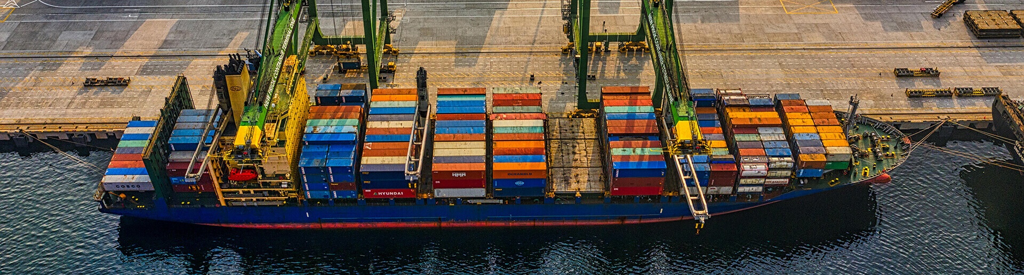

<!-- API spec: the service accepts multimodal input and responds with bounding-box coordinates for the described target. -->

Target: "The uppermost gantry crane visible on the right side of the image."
[561,0,730,157]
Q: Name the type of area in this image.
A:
port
